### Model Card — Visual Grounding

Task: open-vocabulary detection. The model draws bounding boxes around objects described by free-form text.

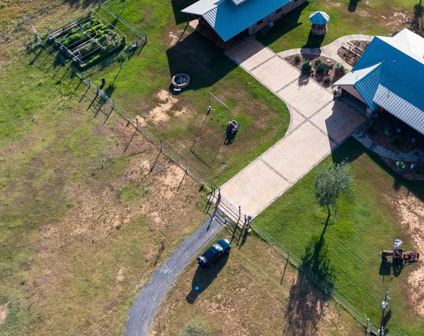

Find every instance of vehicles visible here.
[193,240,231,270]
[389,249,416,268]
